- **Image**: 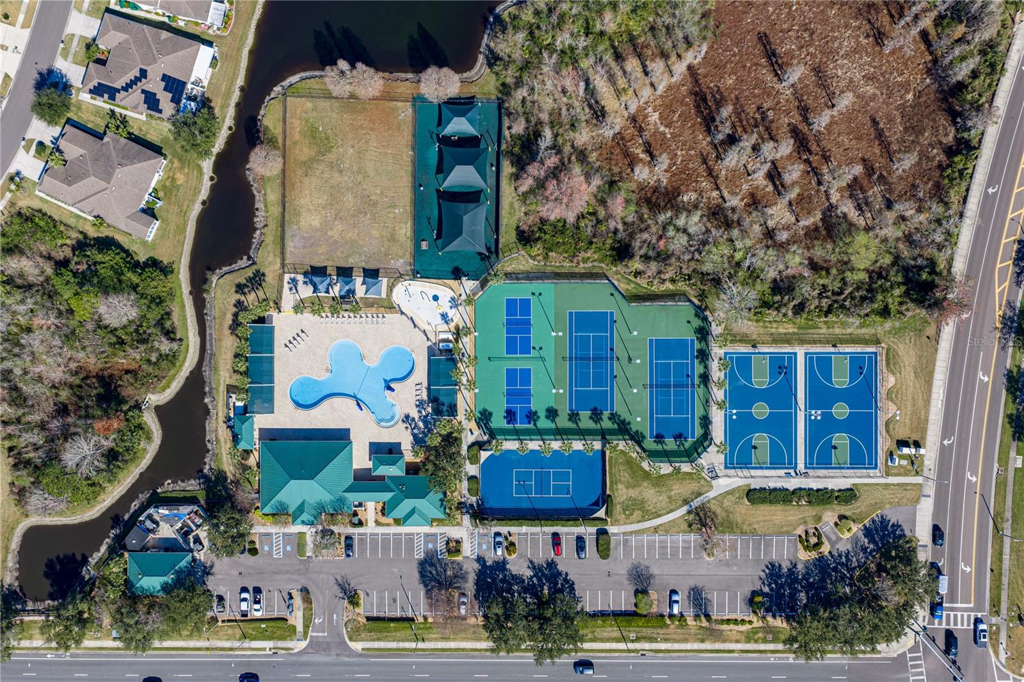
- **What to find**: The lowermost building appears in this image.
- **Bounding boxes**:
[127,552,195,595]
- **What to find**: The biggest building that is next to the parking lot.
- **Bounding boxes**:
[260,441,445,526]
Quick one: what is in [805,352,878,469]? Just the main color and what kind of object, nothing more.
blue basketball court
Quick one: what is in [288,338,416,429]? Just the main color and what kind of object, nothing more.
blue swimming pool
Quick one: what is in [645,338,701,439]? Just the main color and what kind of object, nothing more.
blue tennis court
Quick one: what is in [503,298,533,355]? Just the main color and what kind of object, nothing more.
blue sports court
